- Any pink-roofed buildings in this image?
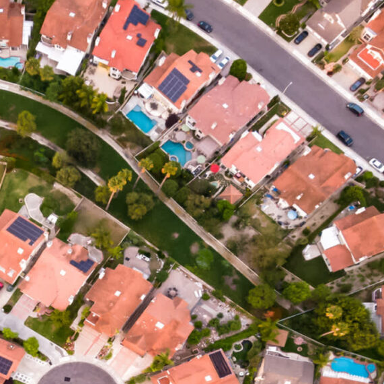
Yes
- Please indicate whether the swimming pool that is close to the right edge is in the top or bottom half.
bottom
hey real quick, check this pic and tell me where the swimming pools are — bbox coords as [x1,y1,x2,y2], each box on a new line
[231,338,253,368]
[125,104,159,135]
[0,56,25,71]
[329,355,377,379]
[160,138,195,167]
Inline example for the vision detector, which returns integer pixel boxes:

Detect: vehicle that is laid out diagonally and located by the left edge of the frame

[2,280,19,295]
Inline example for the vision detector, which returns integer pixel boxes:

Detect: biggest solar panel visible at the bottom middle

[209,348,232,377]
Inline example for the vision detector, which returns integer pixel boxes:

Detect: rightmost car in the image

[369,159,384,173]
